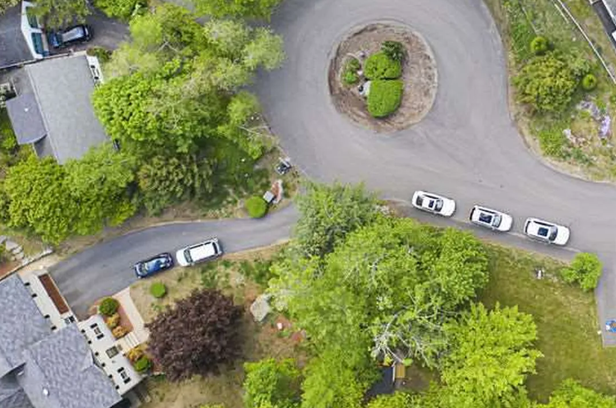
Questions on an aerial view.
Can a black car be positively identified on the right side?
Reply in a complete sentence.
No, looking on the right side, there is no black car.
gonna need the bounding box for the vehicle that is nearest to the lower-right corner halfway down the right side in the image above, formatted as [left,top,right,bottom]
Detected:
[522,216,572,247]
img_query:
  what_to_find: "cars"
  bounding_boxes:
[409,189,458,219]
[179,235,228,266]
[466,203,515,233]
[134,253,176,278]
[51,23,100,48]
[522,216,572,247]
